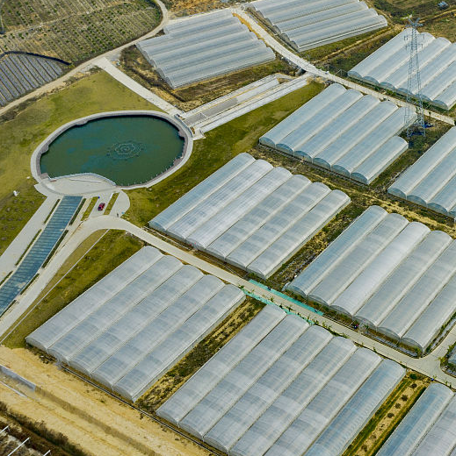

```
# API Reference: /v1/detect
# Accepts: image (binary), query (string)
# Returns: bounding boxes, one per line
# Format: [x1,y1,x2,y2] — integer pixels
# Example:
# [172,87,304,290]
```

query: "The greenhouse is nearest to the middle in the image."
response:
[146,151,353,282]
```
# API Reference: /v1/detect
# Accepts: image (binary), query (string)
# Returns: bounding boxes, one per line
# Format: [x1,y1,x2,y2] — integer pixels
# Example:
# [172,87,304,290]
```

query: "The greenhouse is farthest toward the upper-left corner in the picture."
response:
[142,7,273,90]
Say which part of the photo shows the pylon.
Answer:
top right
